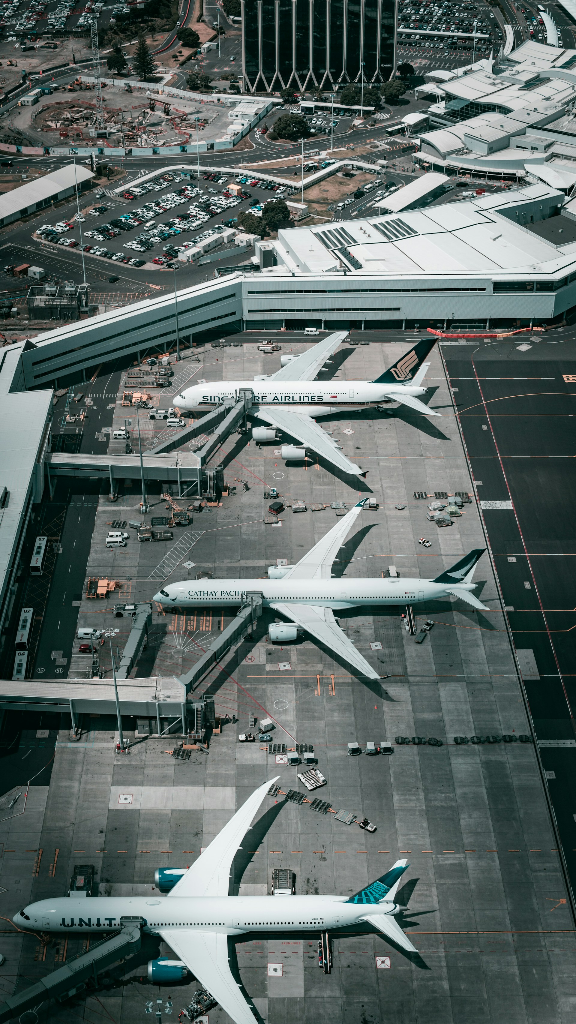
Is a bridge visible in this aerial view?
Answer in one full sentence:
Yes, you can see a bridge in this photo.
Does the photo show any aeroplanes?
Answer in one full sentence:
Yes, an aeroplane can be made out from above.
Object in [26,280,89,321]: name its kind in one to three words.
building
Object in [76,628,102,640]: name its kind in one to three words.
vehicle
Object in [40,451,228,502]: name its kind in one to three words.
bridge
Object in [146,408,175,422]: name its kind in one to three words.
work vehicle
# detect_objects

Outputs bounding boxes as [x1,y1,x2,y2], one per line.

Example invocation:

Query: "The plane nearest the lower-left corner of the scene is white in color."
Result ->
[13,775,423,1024]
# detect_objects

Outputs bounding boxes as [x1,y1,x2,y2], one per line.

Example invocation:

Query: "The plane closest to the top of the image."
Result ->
[170,326,444,479]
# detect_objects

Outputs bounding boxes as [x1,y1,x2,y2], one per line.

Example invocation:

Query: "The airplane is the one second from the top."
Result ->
[153,496,493,675]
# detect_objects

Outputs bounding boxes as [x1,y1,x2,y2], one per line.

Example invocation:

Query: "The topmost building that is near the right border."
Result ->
[410,40,576,202]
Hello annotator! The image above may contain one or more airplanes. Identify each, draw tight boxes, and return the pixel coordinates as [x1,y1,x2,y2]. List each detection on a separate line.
[153,496,493,675]
[170,326,444,479]
[13,775,423,1024]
